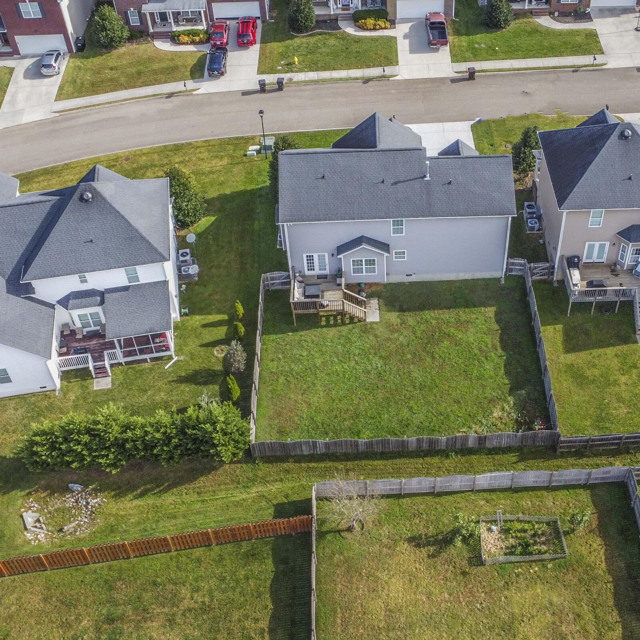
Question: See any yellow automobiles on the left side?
No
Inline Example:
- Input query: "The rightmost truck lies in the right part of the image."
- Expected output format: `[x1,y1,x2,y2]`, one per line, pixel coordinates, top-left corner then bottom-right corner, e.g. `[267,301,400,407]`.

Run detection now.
[427,12,449,46]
